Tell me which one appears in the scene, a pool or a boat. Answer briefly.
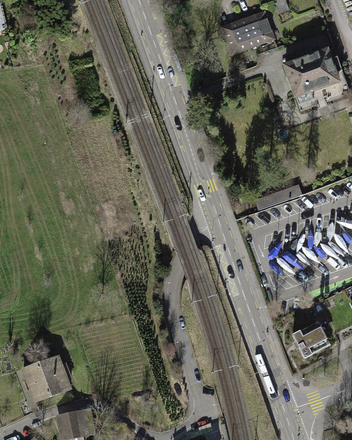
boat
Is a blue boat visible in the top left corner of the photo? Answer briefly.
No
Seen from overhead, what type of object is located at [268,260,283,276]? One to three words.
boat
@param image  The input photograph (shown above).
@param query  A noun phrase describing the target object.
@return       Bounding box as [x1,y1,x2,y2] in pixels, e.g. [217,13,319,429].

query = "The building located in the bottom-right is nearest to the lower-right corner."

[294,324,332,360]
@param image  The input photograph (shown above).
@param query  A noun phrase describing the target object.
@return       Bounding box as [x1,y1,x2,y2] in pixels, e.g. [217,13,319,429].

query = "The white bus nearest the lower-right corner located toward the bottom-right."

[256,354,278,400]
